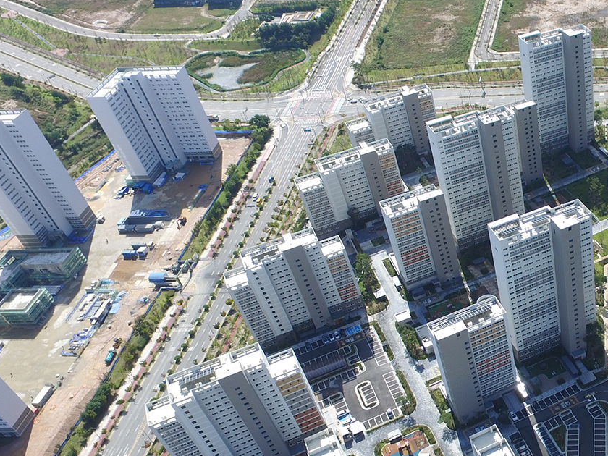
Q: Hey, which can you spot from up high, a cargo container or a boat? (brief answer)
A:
cargo container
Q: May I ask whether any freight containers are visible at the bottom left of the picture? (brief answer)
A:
Yes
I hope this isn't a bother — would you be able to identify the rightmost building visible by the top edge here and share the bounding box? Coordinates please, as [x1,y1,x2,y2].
[521,19,594,157]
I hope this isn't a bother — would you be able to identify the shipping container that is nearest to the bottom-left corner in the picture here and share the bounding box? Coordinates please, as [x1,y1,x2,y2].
[26,378,53,407]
